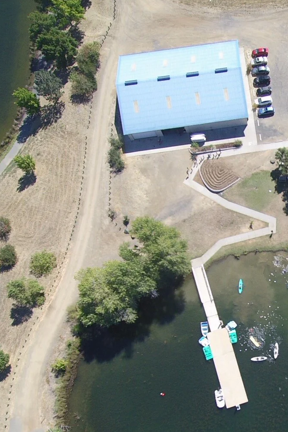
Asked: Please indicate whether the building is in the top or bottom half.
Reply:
top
